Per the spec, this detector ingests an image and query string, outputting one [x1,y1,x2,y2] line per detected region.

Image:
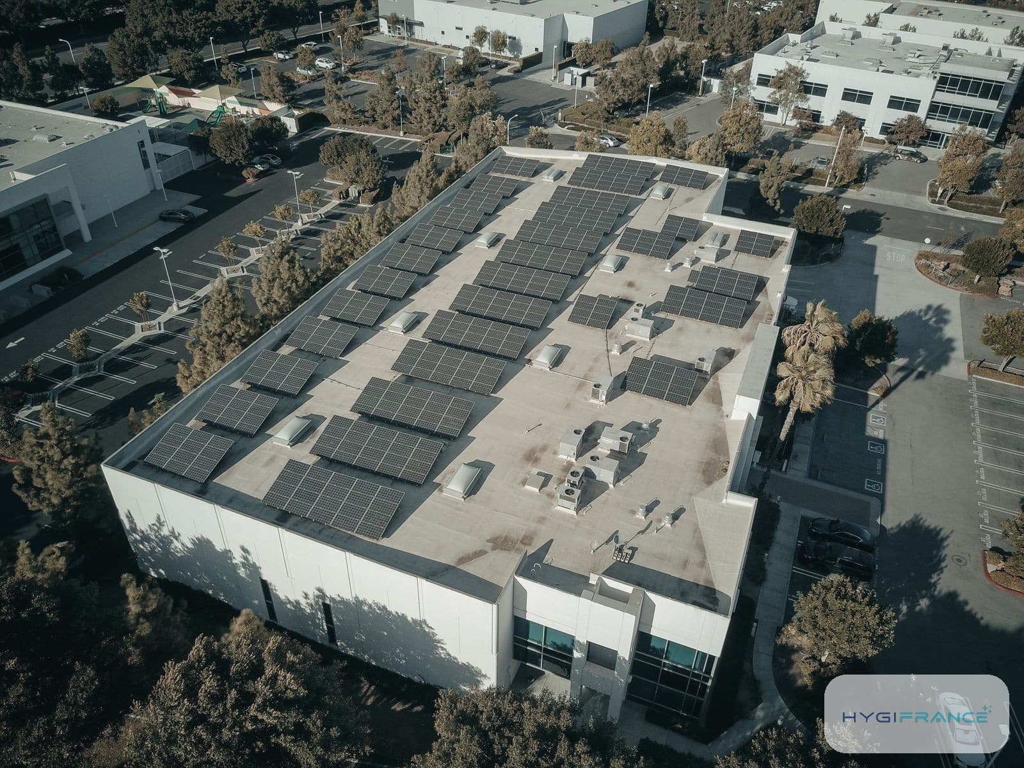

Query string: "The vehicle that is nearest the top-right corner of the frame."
[894,142,926,162]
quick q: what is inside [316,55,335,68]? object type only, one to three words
vehicle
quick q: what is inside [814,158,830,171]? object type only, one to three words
vehicle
